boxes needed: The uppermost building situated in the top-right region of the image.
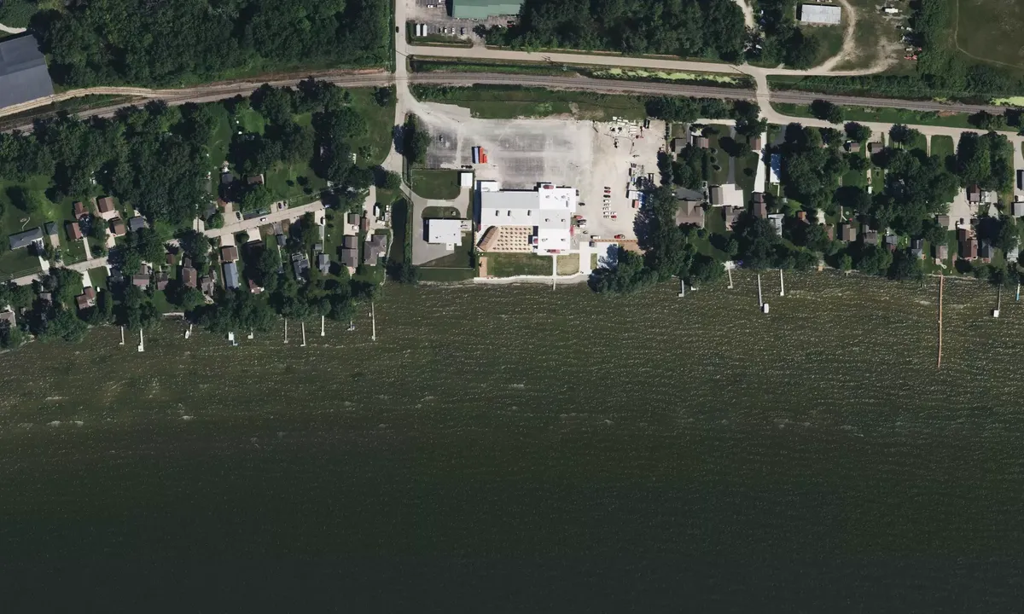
[801,3,842,24]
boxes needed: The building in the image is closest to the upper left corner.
[0,35,48,107]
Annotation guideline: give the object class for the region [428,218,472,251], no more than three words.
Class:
building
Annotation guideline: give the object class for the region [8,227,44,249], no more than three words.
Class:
house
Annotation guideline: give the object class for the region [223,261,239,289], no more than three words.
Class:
house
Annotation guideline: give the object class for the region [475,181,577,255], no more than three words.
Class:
building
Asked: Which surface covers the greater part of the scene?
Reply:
water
